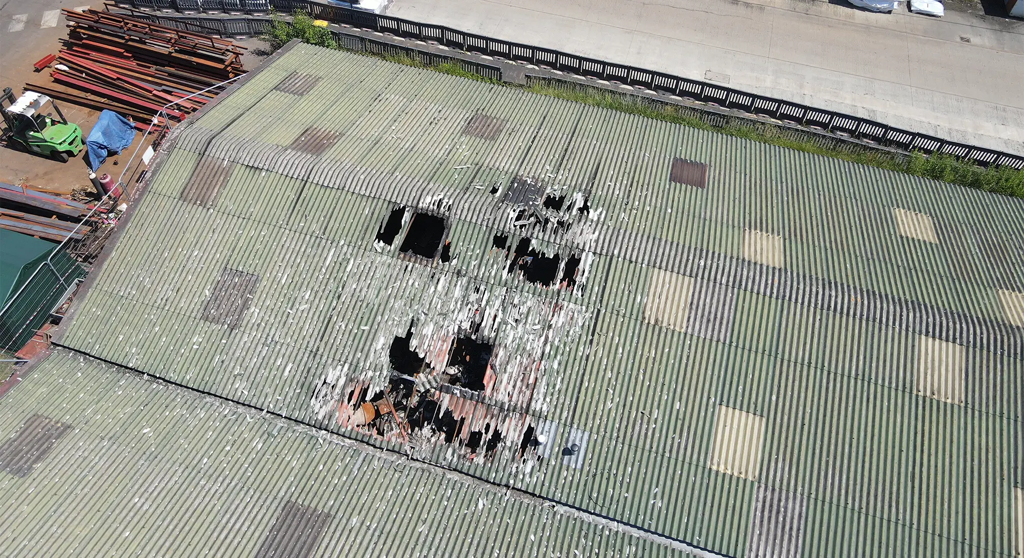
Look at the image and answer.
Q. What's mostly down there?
buildings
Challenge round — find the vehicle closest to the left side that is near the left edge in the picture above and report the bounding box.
[0,89,93,164]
